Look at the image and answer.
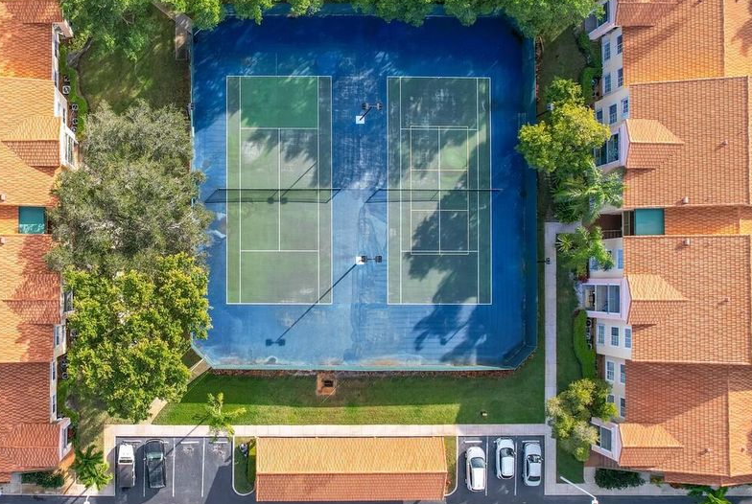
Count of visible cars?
5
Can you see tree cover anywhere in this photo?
Yes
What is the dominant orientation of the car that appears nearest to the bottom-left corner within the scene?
from top to bottom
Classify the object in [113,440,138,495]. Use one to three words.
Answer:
car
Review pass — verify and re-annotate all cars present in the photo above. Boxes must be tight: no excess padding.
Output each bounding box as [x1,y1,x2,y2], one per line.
[143,437,168,490]
[493,435,518,481]
[520,441,546,487]
[465,444,489,492]
[113,440,138,495]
